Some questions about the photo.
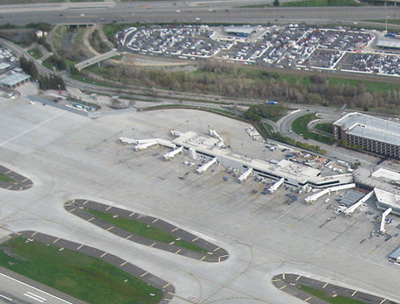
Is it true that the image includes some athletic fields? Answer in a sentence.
No, I find no athletic field anywhere in the image.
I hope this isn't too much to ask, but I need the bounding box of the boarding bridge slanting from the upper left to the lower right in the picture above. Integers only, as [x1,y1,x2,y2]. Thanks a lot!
[208,128,225,143]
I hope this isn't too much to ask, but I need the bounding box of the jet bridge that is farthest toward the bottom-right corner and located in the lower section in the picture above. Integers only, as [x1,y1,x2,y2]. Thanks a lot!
[379,208,393,232]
